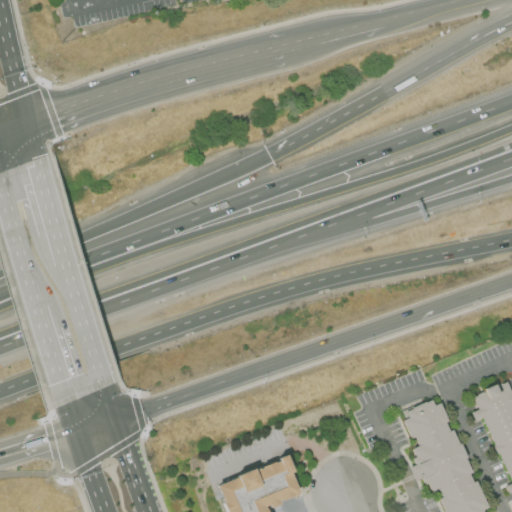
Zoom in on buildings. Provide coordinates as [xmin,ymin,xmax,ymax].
[474,382,512,511]
[220,454,305,512]
[404,402,492,512]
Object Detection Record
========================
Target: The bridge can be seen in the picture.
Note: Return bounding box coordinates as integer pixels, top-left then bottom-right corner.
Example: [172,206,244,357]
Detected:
[0,150,122,412]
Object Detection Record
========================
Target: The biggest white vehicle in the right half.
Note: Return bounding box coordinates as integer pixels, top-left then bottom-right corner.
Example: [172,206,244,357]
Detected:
[390,76,418,94]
